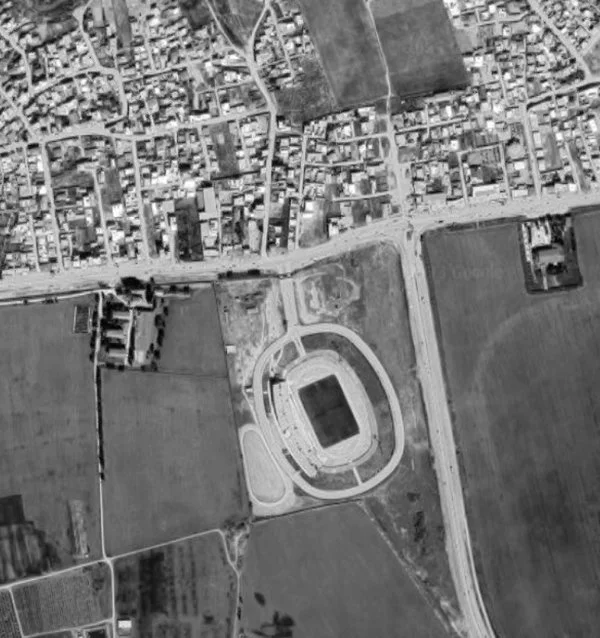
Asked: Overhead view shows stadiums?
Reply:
Yes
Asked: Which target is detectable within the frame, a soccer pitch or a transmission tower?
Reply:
soccer pitch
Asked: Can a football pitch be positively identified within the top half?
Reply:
No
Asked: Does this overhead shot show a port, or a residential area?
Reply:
residential area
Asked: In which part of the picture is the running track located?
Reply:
bottom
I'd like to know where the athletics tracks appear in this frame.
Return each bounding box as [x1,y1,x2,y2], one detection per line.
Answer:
[239,424,310,515]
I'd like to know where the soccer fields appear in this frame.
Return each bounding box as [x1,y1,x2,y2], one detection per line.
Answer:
[299,374,360,448]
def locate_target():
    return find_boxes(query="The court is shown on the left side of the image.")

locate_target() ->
[73,305,90,333]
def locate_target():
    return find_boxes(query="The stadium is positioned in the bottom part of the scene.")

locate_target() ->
[274,350,379,476]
